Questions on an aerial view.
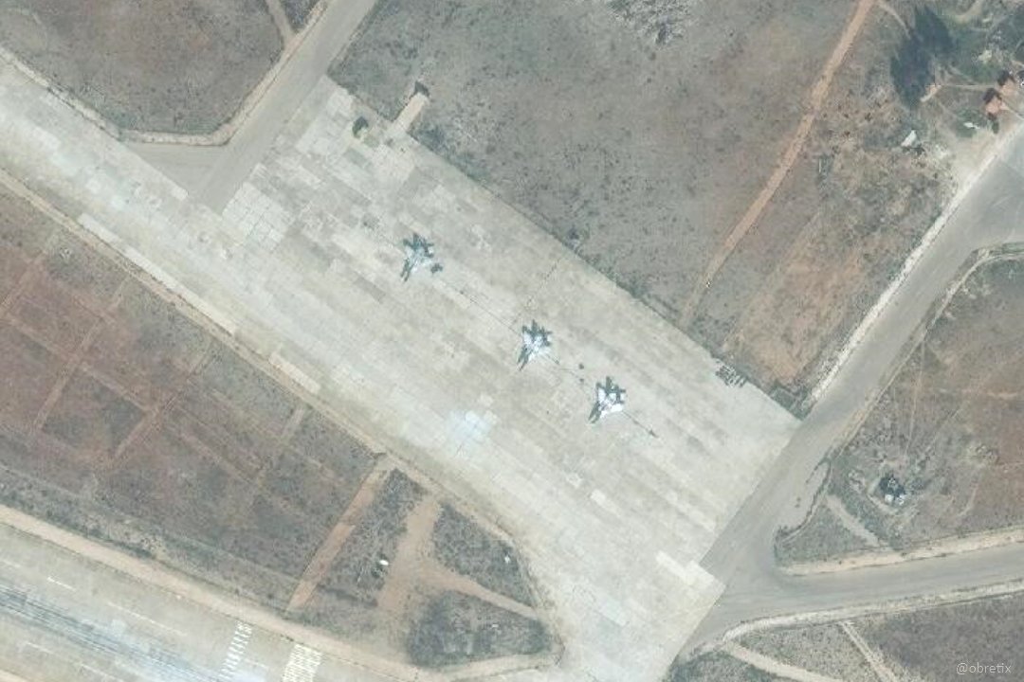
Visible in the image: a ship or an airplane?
airplane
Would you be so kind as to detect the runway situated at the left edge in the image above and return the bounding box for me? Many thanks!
[0,523,396,682]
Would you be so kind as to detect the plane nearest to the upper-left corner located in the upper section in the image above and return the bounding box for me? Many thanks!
[404,241,435,282]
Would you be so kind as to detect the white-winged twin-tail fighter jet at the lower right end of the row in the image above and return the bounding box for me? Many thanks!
[590,384,625,425]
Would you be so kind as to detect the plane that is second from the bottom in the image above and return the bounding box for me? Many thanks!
[519,328,551,371]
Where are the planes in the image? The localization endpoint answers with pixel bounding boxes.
[519,328,551,371]
[404,241,435,282]
[590,384,625,425]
